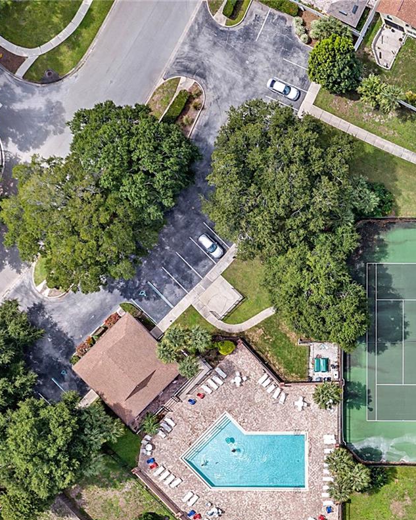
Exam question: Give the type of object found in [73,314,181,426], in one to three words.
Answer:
building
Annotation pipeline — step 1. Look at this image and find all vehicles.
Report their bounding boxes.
[268,78,300,102]
[197,233,224,259]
